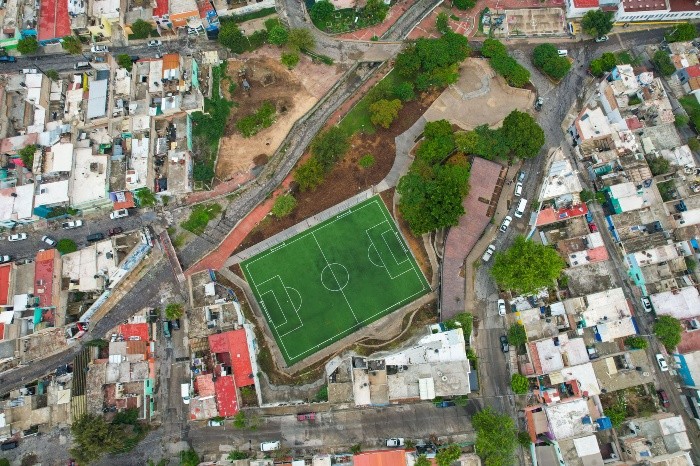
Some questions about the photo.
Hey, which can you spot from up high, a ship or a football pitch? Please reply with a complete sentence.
The one in the frame is a football pitch.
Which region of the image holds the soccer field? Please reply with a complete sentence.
The soccer field appears toward the center of the photo.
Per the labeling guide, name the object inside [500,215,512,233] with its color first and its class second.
white vehicle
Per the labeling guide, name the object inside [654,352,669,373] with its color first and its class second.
white car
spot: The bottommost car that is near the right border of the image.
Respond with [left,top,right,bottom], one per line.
[656,387,671,409]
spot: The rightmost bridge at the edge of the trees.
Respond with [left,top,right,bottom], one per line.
[357,38,405,64]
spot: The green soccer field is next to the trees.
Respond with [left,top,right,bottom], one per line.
[237,192,434,369]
